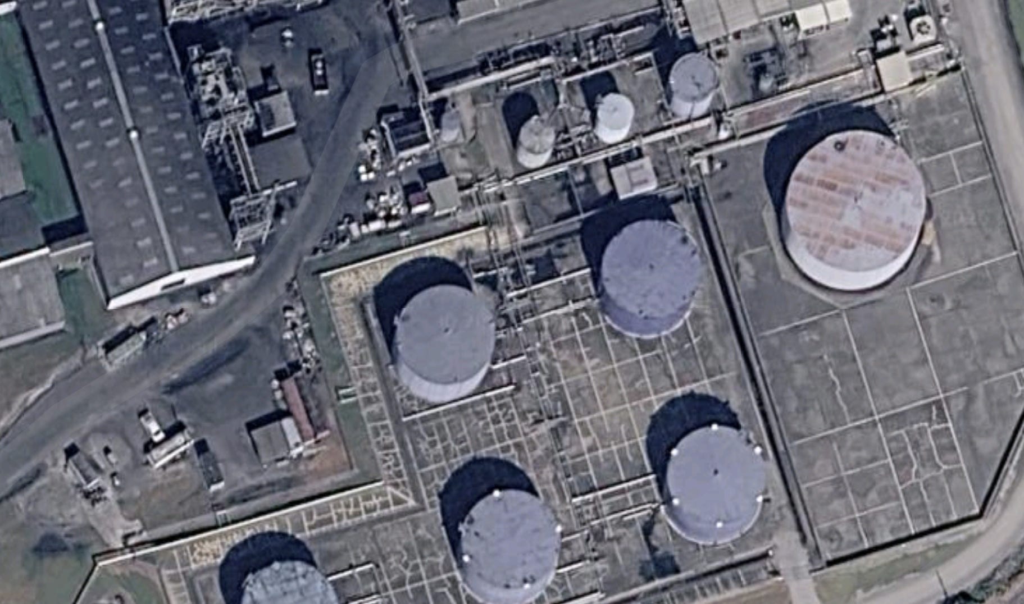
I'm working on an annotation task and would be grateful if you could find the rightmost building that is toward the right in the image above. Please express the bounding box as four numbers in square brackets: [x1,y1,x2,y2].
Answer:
[876,52,913,95]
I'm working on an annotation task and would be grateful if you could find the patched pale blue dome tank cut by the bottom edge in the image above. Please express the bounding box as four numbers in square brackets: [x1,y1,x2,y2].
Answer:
[239,560,339,604]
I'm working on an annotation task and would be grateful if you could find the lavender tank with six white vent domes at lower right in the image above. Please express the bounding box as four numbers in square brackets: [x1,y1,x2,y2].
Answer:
[658,424,766,545]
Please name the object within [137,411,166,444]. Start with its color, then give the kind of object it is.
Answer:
white truck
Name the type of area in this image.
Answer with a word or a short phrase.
industrial area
